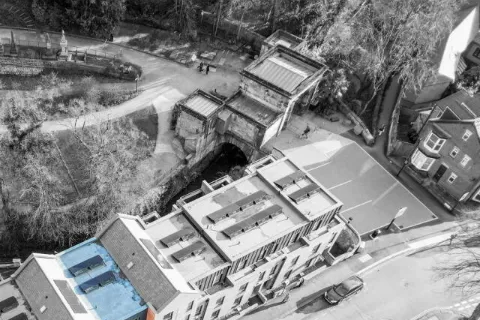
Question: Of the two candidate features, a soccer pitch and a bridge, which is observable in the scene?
bridge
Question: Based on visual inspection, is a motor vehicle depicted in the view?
Yes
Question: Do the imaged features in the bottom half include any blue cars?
No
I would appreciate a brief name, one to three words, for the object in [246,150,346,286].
building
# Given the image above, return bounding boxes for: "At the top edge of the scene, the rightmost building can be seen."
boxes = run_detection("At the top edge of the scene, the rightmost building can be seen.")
[398,2,480,115]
